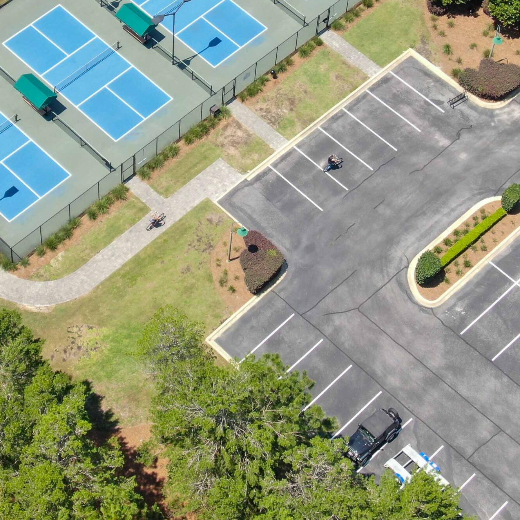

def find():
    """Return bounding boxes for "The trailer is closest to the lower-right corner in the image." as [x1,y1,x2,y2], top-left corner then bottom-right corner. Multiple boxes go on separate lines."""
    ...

[383,444,461,515]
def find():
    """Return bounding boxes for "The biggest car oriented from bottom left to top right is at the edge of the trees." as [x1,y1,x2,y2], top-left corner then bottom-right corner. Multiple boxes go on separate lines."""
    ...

[344,405,398,461]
